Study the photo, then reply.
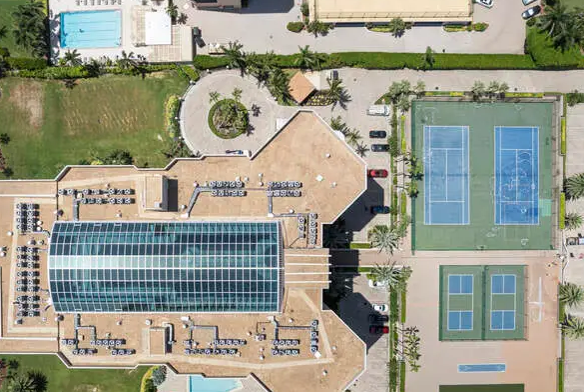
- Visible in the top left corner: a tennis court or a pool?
pool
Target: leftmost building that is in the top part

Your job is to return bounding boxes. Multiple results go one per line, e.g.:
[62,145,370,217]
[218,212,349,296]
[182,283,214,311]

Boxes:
[145,12,172,48]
